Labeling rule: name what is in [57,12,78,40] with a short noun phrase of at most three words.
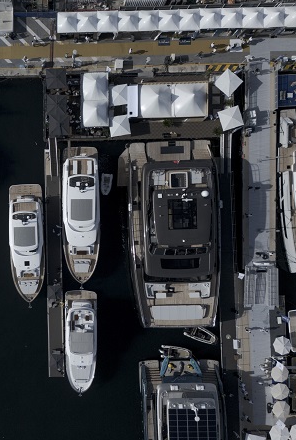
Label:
tent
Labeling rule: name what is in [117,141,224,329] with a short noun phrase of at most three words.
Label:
boat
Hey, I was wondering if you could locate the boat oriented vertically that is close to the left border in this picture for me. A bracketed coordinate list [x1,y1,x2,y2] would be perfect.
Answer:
[9,184,45,310]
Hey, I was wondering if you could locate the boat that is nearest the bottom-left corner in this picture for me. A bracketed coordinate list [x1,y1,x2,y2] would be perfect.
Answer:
[62,290,97,400]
